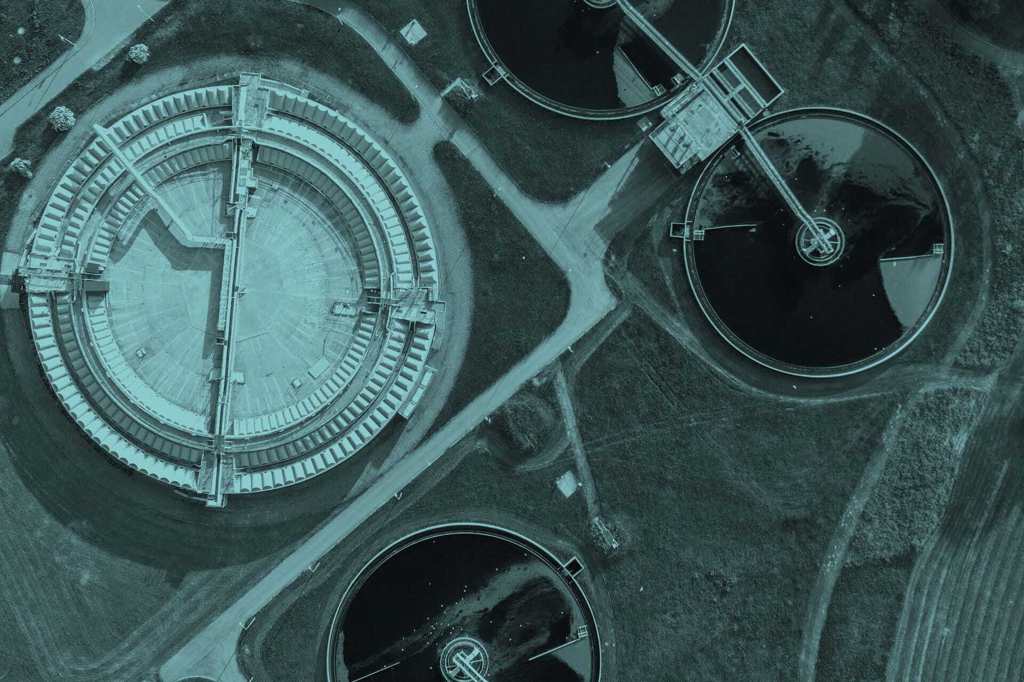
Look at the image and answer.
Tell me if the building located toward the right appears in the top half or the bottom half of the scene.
top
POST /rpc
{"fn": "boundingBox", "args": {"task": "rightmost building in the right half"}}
[645,44,784,178]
